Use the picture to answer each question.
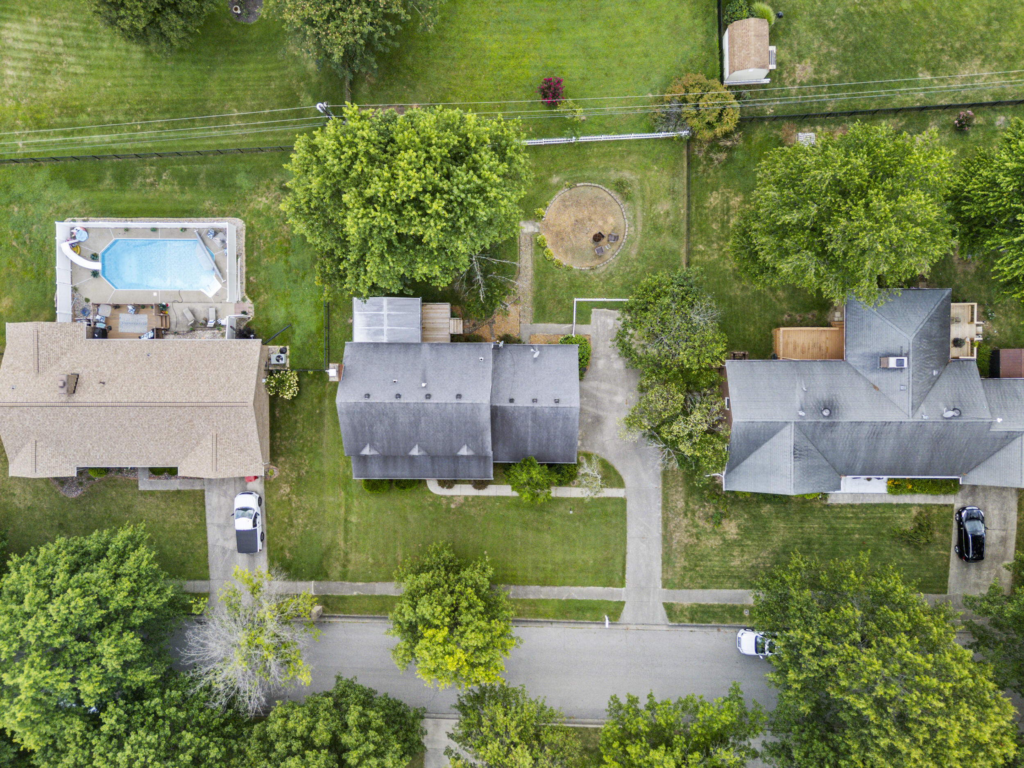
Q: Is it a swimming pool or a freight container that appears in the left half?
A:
swimming pool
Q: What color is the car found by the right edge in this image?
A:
black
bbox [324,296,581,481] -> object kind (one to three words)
house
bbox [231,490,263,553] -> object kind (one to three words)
truck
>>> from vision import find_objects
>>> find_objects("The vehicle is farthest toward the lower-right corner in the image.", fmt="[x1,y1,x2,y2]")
[954,504,989,562]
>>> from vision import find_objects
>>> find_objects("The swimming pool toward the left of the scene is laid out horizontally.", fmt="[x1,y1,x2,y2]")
[98,237,221,297]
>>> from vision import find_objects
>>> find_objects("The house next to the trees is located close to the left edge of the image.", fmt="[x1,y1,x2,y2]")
[0,321,277,478]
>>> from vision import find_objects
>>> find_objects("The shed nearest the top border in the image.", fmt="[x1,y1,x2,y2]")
[724,15,772,89]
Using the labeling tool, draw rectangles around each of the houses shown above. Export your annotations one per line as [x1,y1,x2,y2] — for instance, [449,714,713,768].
[710,287,1024,494]
[0,321,277,478]
[324,296,581,481]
